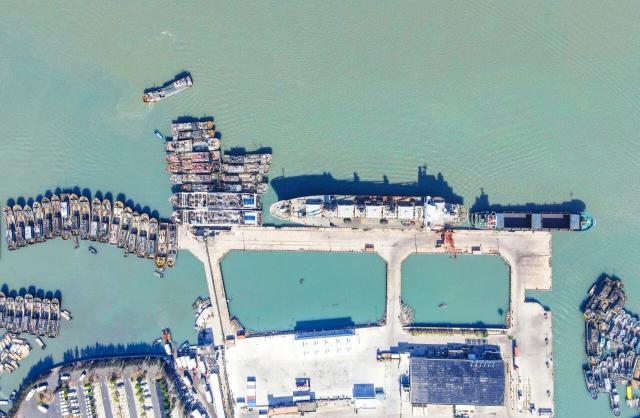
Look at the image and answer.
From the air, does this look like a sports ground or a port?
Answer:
port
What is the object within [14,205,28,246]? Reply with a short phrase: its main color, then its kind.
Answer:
gray boat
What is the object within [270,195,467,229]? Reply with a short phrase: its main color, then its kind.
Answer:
white ship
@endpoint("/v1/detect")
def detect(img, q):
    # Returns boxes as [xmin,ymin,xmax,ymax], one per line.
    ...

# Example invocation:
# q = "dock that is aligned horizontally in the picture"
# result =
[178,227,551,289]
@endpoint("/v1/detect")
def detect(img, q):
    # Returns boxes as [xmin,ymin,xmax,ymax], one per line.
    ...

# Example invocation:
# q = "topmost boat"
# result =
[142,78,194,100]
